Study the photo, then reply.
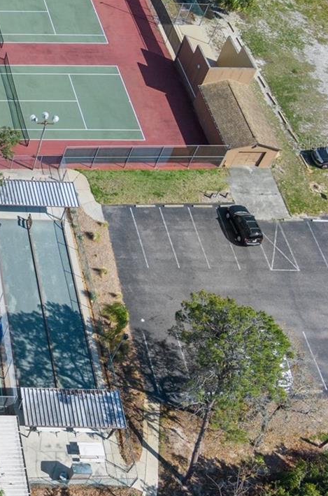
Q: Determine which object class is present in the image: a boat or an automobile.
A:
automobile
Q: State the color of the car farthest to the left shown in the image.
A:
black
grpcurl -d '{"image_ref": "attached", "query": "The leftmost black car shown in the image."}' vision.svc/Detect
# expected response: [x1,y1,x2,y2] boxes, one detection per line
[226,204,269,249]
